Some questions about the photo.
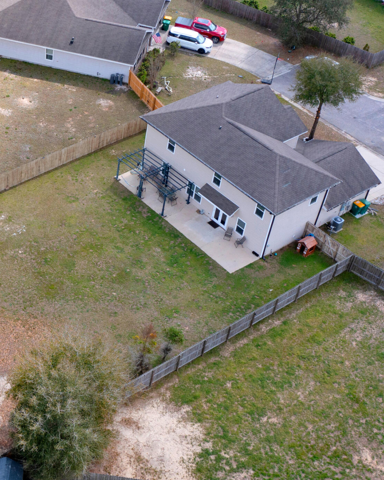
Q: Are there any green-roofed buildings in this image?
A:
No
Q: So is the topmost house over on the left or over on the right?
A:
left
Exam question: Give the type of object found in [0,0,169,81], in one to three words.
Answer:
house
